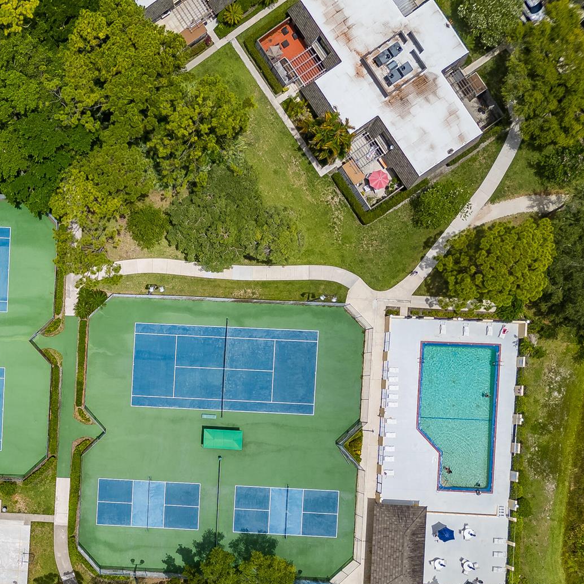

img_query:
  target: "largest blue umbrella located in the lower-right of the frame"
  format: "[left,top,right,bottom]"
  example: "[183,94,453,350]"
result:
[435,525,452,543]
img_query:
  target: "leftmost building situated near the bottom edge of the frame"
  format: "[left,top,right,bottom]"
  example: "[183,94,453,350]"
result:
[367,498,427,584]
